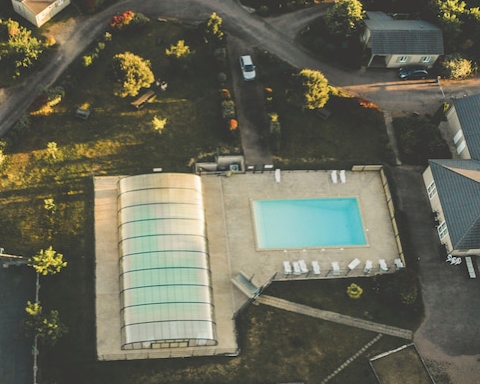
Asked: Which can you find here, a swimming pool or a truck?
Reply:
swimming pool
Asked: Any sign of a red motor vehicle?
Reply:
No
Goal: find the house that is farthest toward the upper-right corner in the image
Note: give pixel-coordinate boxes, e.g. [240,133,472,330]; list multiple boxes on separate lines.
[362,12,446,66]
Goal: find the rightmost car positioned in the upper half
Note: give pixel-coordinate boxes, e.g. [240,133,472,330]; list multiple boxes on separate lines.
[398,65,430,82]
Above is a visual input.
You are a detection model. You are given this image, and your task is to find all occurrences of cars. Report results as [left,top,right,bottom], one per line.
[398,65,430,82]
[239,53,258,83]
